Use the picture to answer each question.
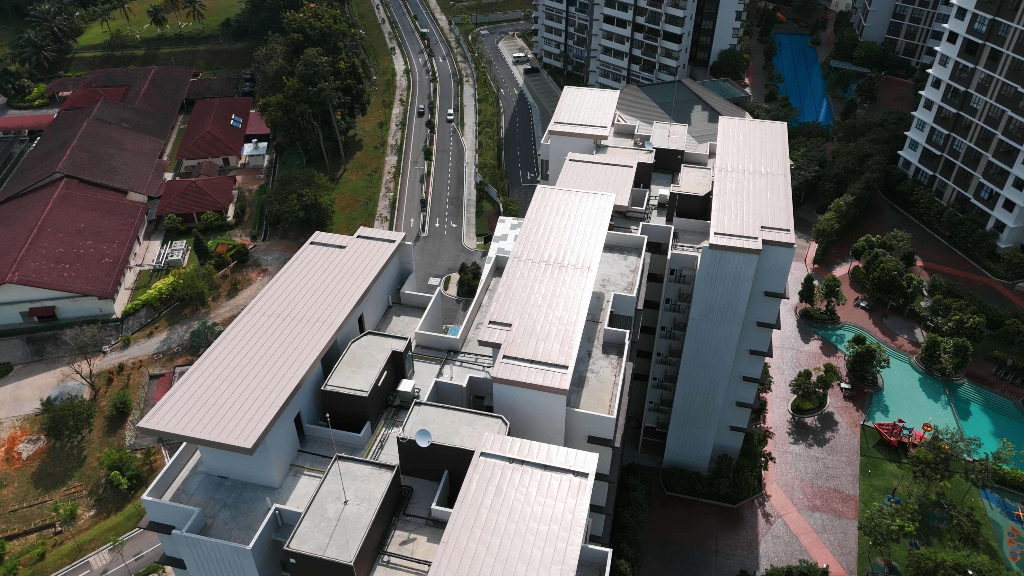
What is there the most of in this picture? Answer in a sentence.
For the most part, this view shows buildings.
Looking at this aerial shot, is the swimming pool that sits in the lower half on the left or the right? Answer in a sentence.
The swimming pool that sits in the lower half sits on the right side.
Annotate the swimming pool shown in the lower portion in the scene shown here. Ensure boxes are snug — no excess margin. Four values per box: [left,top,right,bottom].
[816,325,1024,468]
